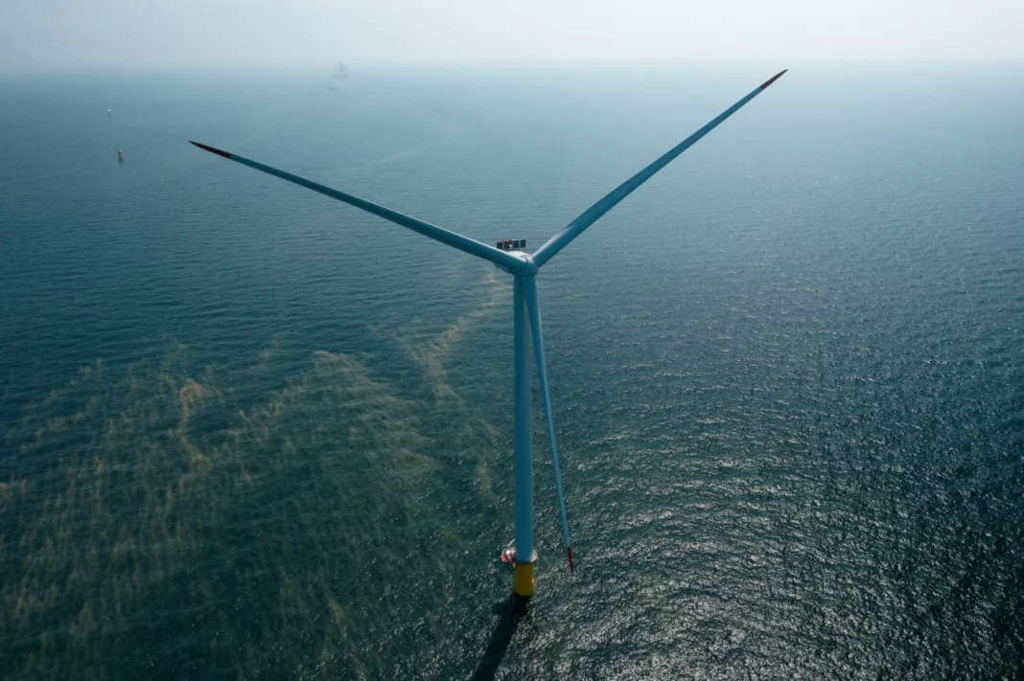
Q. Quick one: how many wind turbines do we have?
one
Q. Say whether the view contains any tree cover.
No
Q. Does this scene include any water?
Yes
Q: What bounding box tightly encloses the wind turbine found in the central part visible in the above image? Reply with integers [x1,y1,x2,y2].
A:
[191,67,789,596]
